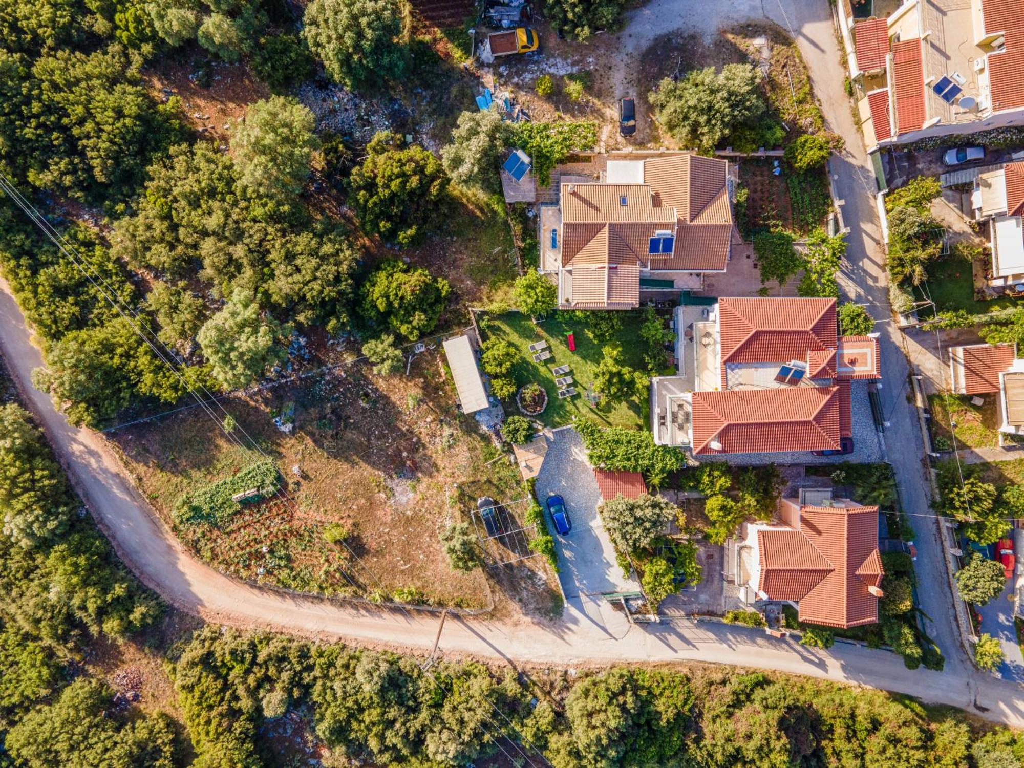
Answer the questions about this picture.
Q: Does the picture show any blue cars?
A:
Yes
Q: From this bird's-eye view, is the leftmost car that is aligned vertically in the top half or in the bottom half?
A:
bottom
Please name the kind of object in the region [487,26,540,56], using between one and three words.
truck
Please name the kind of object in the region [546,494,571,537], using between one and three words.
car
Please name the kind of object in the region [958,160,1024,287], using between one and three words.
house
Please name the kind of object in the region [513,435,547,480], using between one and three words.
shed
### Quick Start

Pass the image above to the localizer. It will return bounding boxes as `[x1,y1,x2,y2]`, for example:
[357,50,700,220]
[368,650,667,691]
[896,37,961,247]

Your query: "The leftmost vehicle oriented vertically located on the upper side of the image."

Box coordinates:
[617,98,638,140]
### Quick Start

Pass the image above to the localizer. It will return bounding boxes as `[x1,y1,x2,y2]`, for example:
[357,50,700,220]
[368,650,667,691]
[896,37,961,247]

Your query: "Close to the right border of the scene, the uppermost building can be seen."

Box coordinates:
[847,0,1024,148]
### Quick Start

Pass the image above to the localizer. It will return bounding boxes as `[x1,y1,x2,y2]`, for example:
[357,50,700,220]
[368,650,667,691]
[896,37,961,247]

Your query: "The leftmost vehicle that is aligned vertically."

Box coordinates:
[479,496,502,538]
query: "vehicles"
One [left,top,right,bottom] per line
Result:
[479,496,502,538]
[487,26,540,56]
[940,145,985,168]
[811,437,854,457]
[1011,149,1024,162]
[617,98,638,140]
[993,539,1017,578]
[546,494,571,537]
